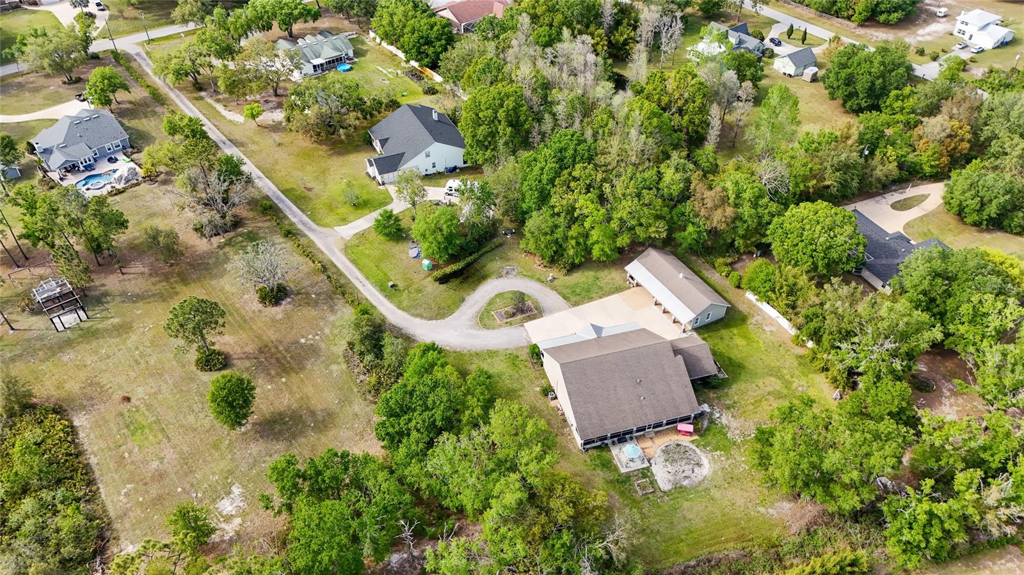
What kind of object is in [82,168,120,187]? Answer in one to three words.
swimming pool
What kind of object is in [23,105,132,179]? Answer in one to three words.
house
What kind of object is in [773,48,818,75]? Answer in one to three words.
barn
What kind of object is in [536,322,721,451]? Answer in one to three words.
house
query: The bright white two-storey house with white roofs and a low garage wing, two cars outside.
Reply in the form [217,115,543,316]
[953,8,1023,47]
